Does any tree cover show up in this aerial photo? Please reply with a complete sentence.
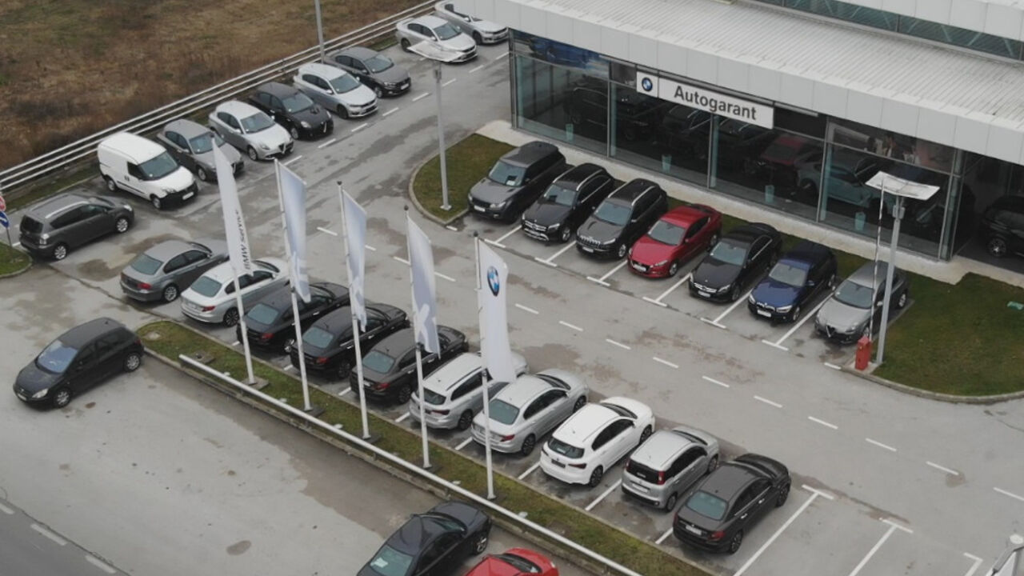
No, no tree cover is visible.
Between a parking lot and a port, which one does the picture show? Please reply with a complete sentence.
The area seen from above is a parking lot.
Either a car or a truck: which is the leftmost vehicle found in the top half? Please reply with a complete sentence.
I'd say the leftmost vehicle found in the top half is a car.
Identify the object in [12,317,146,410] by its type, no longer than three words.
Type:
car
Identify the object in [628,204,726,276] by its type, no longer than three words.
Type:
car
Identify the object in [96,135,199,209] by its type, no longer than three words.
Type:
van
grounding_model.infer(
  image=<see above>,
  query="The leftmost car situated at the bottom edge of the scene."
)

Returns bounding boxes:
[340,500,493,576]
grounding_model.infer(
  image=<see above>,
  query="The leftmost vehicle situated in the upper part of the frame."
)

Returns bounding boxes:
[15,194,133,261]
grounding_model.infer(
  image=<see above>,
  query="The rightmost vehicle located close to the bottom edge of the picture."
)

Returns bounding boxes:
[673,454,795,558]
